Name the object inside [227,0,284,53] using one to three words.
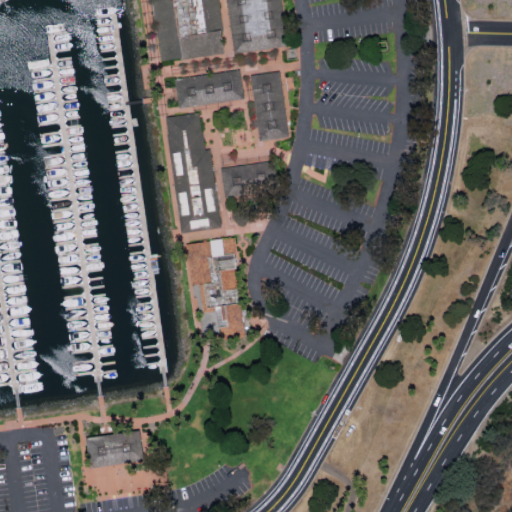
building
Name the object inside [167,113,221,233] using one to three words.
building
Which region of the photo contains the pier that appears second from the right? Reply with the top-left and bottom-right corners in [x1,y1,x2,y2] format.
[32,32,118,396]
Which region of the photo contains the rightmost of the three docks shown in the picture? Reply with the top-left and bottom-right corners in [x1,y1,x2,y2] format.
[97,8,168,387]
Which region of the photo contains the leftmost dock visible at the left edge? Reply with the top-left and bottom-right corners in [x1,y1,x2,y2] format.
[0,118,44,406]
